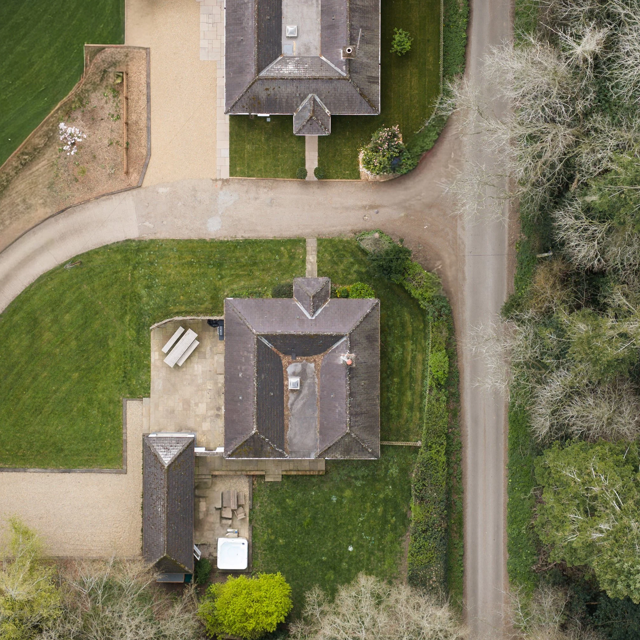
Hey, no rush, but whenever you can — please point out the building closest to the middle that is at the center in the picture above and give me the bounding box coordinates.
[223,276,381,460]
